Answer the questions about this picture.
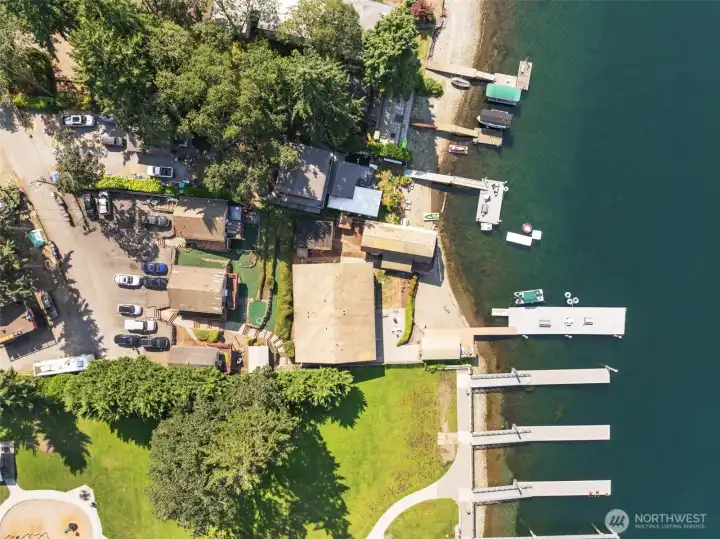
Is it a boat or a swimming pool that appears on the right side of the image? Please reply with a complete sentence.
There is a boat on the right side of the image.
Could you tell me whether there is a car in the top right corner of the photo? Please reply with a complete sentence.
No, there is no car in the top right corner of the photo.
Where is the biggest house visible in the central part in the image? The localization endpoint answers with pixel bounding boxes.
[291,261,378,365]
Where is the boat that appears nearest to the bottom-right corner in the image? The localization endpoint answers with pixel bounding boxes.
[510,289,546,307]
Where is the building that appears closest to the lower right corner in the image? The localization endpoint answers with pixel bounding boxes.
[420,335,461,361]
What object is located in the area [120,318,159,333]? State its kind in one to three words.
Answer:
vehicle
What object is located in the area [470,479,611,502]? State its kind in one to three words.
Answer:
pier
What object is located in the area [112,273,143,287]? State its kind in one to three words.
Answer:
car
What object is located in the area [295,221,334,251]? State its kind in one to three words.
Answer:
shed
